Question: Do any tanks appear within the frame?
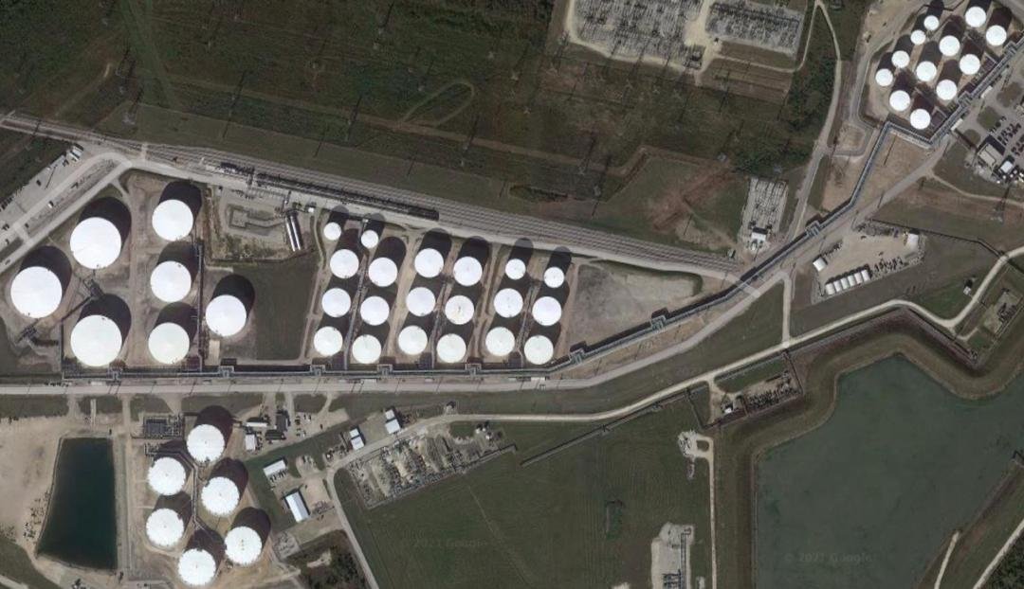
Yes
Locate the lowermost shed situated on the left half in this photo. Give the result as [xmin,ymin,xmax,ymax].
[285,492,309,522]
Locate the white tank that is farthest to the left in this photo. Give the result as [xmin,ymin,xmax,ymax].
[11,266,64,318]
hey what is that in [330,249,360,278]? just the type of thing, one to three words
storage tank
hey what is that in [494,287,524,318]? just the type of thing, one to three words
storage tank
